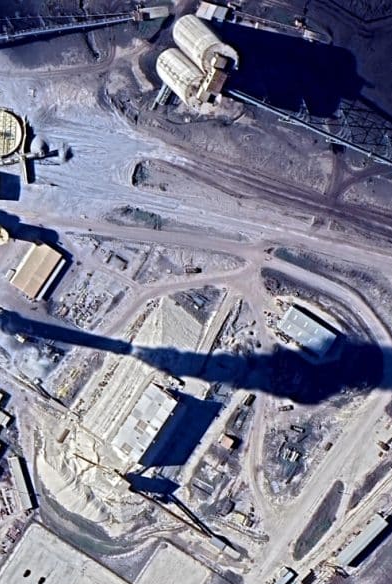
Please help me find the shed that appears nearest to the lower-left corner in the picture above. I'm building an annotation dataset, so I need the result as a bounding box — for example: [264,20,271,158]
[8,455,32,511]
